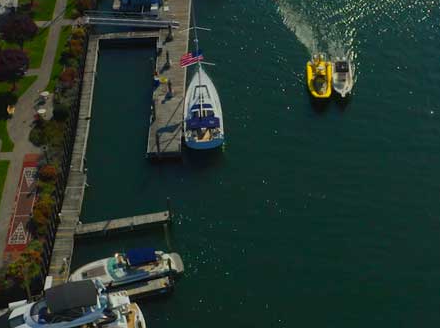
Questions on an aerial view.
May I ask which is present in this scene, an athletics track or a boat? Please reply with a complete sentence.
It is a boat that can be seen here.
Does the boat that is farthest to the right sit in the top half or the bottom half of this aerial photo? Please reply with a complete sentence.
You can find the boat that is farthest to the right in the top half.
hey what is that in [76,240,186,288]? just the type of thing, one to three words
boat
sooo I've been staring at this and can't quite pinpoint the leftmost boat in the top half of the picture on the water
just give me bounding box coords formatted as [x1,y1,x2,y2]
[176,0,225,152]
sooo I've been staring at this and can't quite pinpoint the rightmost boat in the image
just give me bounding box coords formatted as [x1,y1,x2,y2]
[331,55,356,98]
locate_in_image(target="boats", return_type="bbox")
[331,55,356,98]
[305,46,332,100]
[0,273,147,328]
[176,0,225,152]
[76,240,186,288]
